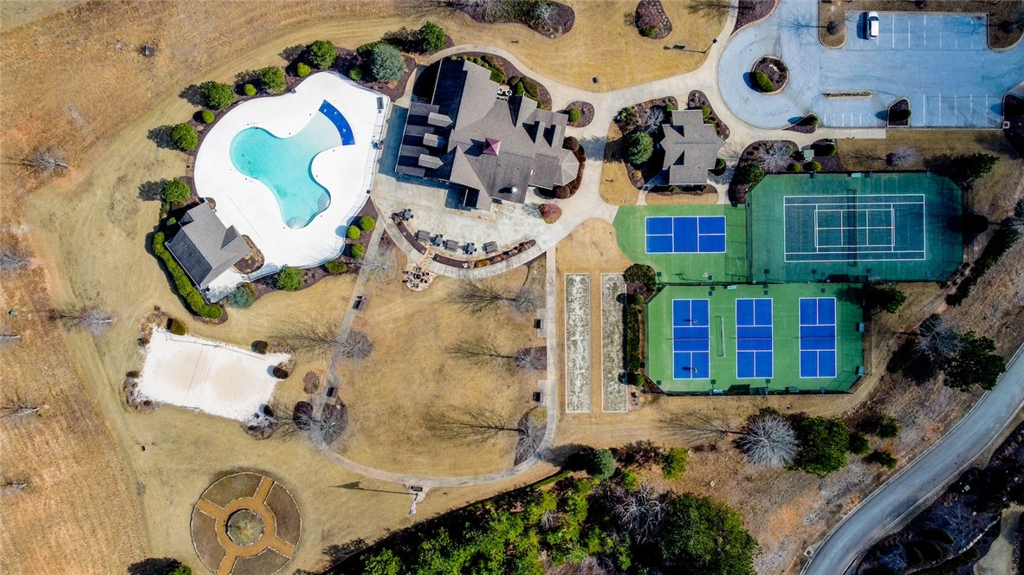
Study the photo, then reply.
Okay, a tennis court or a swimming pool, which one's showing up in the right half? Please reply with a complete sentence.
Looking in the right half, you will find a tennis court.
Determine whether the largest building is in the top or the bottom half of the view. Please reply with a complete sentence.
The largest building is in the top half of the image.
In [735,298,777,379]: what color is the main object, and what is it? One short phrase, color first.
blue sports court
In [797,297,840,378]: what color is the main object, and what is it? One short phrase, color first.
blue sports court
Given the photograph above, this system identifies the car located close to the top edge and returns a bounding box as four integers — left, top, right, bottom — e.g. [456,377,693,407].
[867,9,883,38]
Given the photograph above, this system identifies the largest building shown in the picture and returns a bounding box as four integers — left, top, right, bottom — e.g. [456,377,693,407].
[395,59,579,211]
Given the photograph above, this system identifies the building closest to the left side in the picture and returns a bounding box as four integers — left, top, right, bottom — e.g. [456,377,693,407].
[165,202,256,289]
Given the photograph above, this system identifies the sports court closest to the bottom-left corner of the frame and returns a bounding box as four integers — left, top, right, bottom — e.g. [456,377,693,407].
[136,325,291,421]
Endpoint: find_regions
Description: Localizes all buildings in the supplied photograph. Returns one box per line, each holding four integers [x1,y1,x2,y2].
[659,110,726,187]
[165,202,256,289]
[395,59,579,211]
